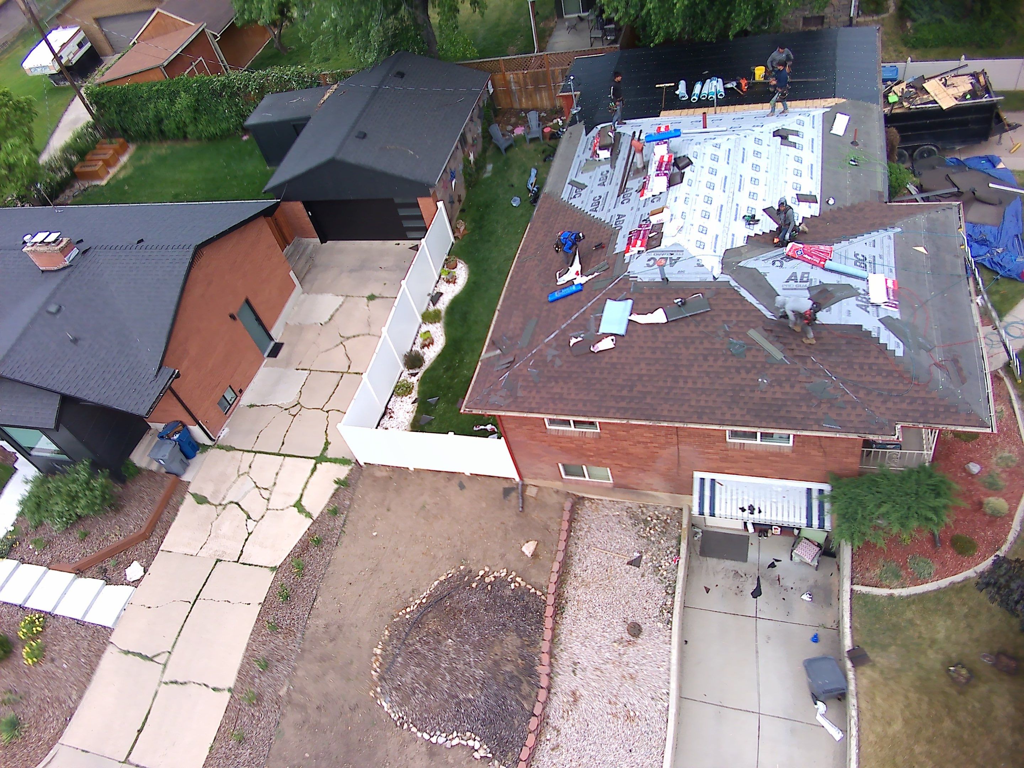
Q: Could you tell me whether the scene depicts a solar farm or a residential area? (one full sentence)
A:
This looks like a residential area.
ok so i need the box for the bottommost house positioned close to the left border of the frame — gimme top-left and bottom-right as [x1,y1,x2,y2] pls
[0,167,308,491]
